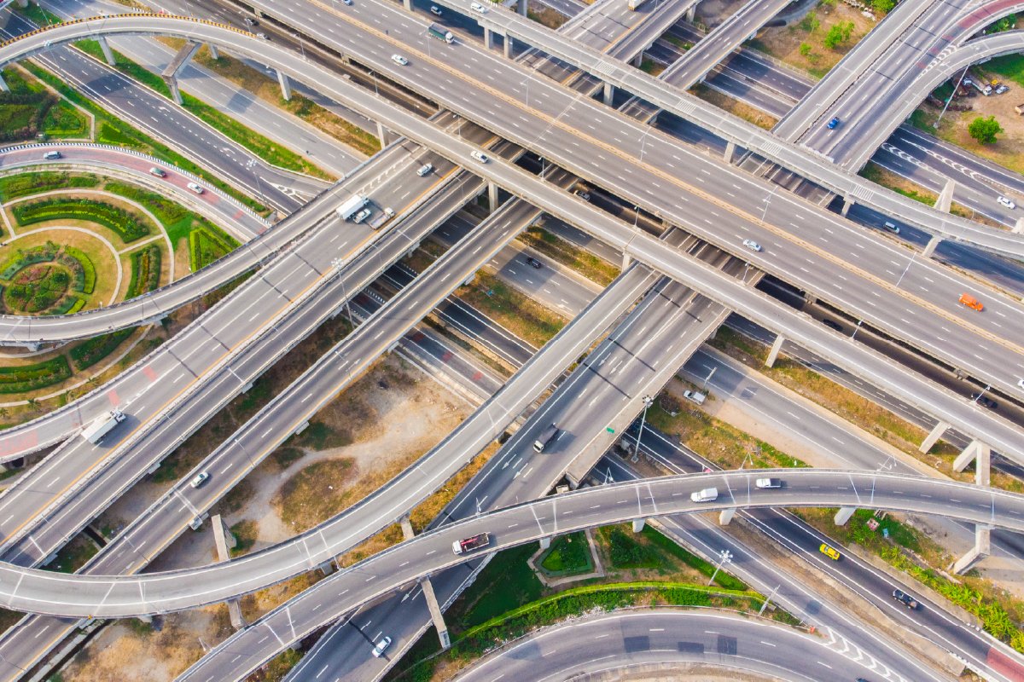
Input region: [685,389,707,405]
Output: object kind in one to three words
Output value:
vehicle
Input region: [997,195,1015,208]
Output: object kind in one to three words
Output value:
vehicle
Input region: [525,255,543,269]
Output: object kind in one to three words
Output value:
car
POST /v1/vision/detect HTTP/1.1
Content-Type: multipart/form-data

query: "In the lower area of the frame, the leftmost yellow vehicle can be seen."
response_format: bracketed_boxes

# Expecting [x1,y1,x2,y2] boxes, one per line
[820,543,841,561]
